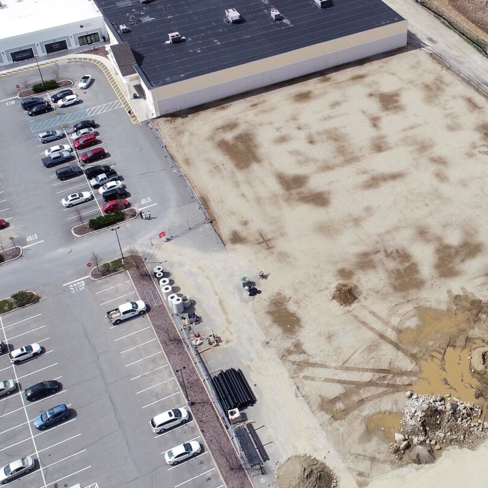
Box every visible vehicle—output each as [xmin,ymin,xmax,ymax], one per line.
[96,180,125,195]
[149,409,190,436]
[0,457,36,485]
[50,90,74,103]
[84,165,112,180]
[0,379,17,397]
[162,441,203,468]
[102,200,131,213]
[26,381,61,404]
[19,96,48,111]
[89,171,121,190]
[78,76,92,90]
[71,127,96,141]
[7,343,44,365]
[37,150,73,167]
[33,404,71,431]
[44,144,71,155]
[71,119,98,133]
[61,193,92,208]
[0,336,7,354]
[106,302,148,326]
[74,134,99,150]
[28,104,54,117]
[57,94,82,108]
[53,166,84,183]
[81,148,107,163]
[101,187,131,203]
[37,131,64,144]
